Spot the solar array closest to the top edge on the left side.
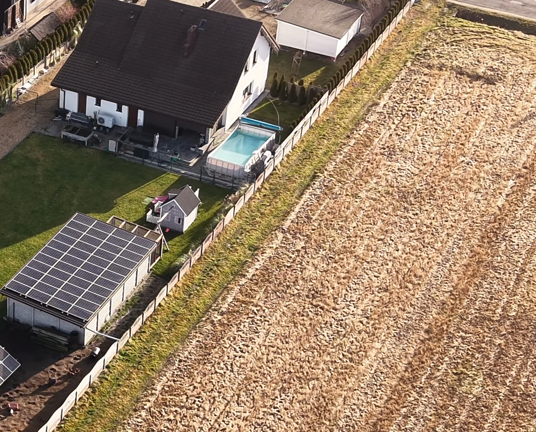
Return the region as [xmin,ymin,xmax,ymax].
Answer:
[5,213,156,320]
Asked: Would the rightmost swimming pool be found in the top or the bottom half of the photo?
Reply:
top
